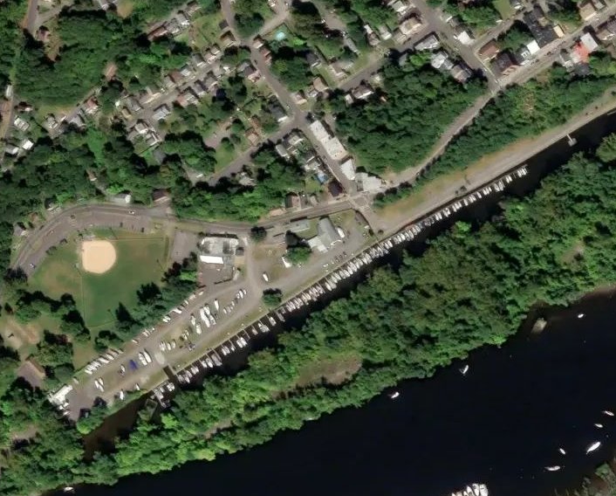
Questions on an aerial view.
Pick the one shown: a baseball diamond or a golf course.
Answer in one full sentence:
I can see a baseball diamond in this picture.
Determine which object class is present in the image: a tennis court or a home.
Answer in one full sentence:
The one in the frame is a home.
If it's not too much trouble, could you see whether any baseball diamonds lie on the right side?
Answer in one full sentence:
No, I see no baseball diamond on the right side.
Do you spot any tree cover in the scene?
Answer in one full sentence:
Yes, tree cover can be seen from above here.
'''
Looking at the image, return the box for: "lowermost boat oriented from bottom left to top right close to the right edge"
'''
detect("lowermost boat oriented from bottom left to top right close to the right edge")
[587,440,603,455]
